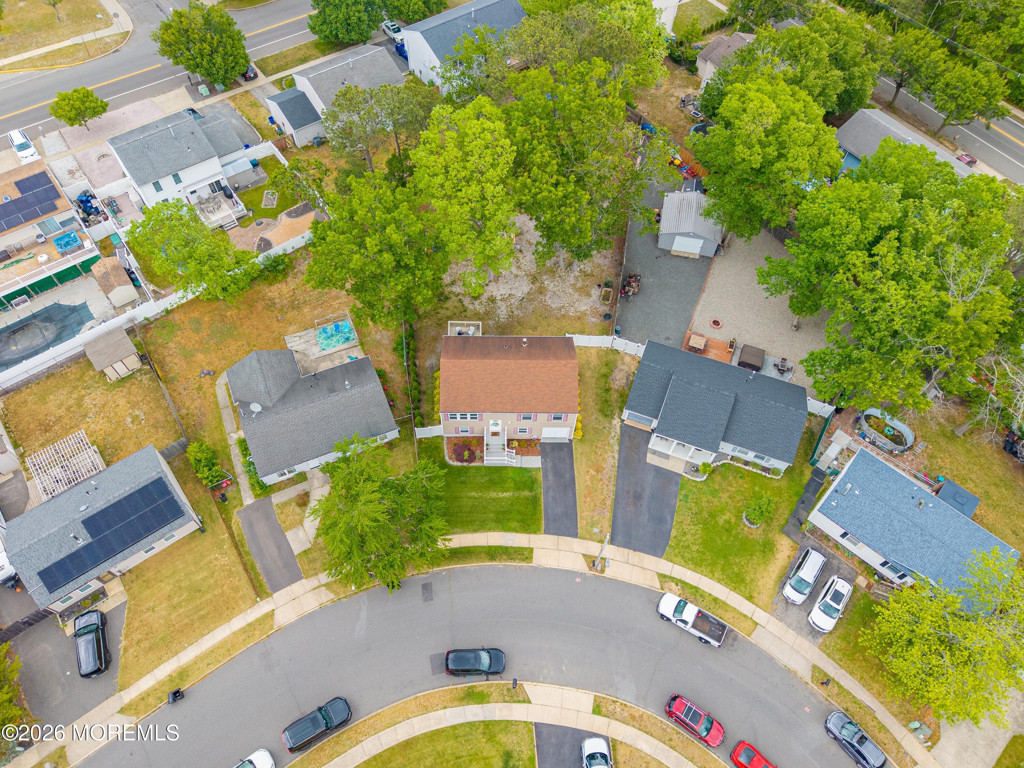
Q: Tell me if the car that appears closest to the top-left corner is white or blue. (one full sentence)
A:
The car that appears closest to the top-left corner is white.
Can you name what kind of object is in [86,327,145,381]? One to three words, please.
shed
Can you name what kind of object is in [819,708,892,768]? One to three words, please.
car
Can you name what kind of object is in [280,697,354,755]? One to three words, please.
car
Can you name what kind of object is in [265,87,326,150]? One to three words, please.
building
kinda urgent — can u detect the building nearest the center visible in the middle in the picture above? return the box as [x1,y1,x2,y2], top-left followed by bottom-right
[439,335,579,438]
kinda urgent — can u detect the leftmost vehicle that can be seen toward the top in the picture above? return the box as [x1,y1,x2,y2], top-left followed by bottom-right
[9,128,41,161]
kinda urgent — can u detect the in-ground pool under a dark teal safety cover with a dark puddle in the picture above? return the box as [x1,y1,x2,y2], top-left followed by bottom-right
[0,299,95,371]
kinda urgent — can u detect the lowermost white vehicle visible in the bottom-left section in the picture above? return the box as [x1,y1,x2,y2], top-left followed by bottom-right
[240,744,281,768]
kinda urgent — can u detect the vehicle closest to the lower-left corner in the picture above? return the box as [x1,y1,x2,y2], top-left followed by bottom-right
[69,608,112,682]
